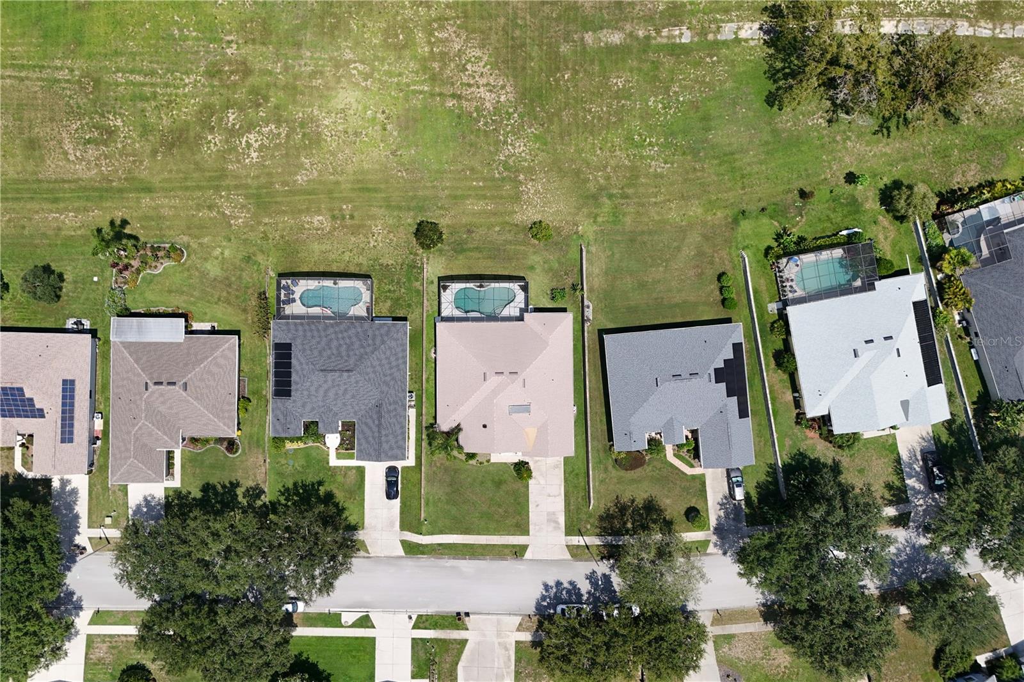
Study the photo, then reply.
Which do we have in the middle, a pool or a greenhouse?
pool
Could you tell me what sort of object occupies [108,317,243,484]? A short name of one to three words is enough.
house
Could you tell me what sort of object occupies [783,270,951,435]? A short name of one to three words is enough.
house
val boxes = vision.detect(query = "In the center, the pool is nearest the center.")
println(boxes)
[452,285,517,319]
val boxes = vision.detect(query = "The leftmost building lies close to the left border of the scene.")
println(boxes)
[0,331,99,477]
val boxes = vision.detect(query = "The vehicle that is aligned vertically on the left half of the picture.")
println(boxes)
[383,467,398,501]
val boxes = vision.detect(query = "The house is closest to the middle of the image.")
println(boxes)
[435,313,574,459]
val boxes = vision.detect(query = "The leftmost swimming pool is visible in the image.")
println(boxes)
[297,283,365,320]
